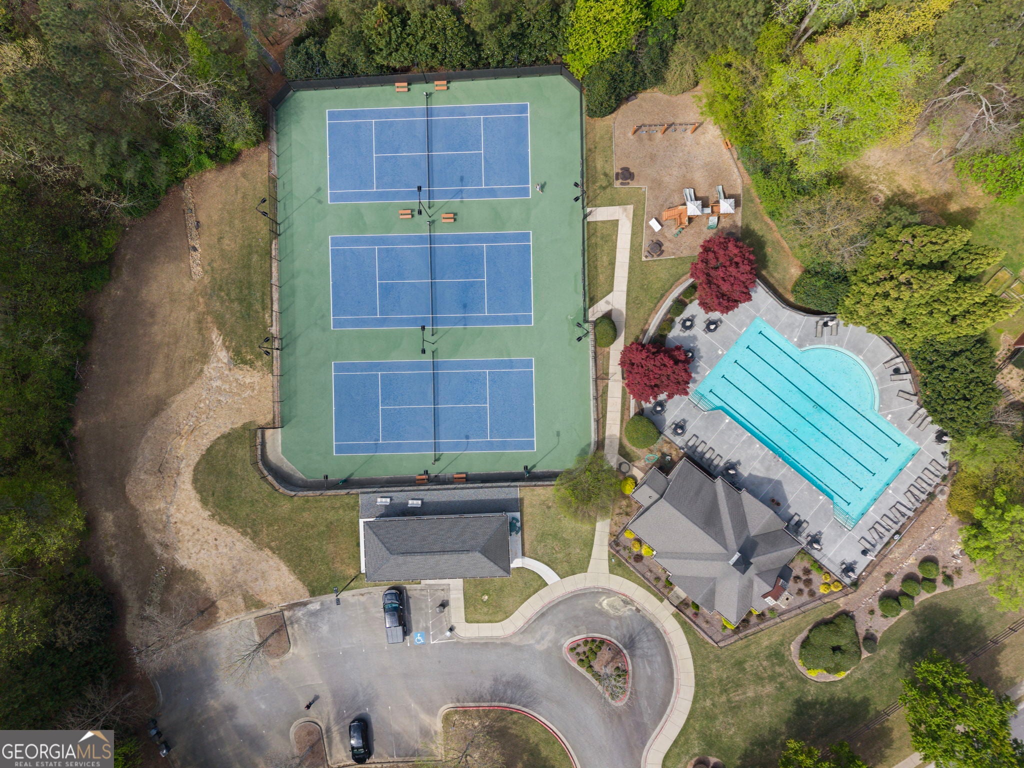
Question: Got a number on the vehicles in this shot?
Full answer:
In total, there are 2 vehicles in the scene.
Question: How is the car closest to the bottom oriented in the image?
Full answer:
The car closest to the bottom is laid out up and down.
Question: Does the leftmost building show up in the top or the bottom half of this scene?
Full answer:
The leftmost building is in the bottom half of the image.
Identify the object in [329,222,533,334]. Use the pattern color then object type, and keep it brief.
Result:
blue tennis court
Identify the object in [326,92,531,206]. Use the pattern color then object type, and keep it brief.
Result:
blue tennis court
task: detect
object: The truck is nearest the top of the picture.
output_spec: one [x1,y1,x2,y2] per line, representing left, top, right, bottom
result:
[381,590,405,644]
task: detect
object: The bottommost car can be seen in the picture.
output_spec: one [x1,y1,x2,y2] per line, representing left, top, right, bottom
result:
[350,718,371,761]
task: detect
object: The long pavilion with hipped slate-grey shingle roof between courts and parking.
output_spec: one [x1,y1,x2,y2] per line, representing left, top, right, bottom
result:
[363,513,511,583]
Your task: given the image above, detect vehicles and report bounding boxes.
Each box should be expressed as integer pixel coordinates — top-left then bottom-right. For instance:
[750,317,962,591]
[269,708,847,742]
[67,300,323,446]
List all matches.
[350,718,371,761]
[381,590,405,644]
